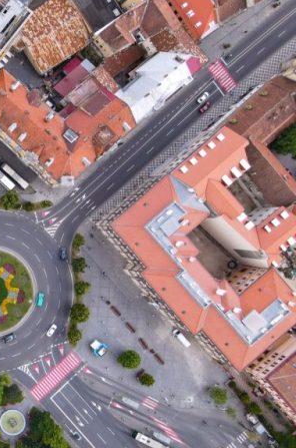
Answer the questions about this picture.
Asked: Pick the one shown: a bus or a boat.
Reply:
bus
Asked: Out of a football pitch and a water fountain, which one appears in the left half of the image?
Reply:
water fountain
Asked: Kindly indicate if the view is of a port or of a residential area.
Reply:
residential area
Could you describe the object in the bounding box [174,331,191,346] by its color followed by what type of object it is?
white vehicle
